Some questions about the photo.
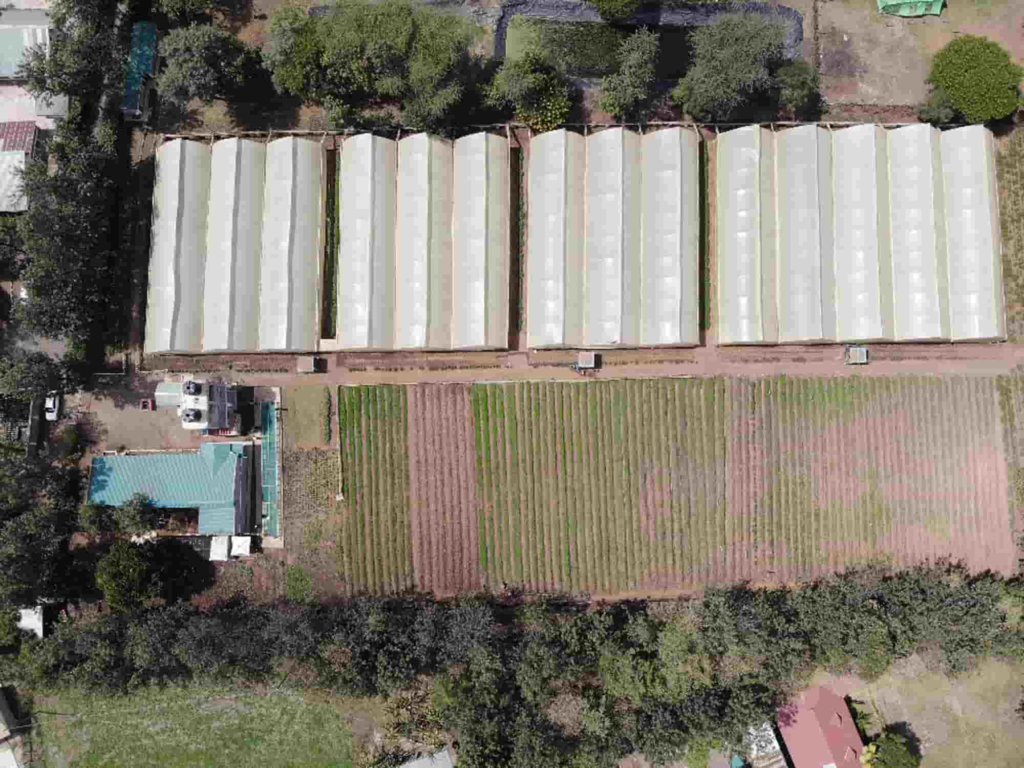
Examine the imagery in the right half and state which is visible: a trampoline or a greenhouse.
greenhouse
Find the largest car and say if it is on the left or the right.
left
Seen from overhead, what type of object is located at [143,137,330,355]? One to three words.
greenhouse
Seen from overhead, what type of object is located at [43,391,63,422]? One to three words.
car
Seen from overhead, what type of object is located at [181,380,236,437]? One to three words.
house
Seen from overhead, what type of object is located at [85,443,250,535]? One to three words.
house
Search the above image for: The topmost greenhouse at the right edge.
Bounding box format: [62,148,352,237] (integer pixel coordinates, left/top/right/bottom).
[711,125,1008,346]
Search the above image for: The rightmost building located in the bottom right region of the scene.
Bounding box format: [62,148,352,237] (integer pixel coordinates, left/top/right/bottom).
[774,689,872,768]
